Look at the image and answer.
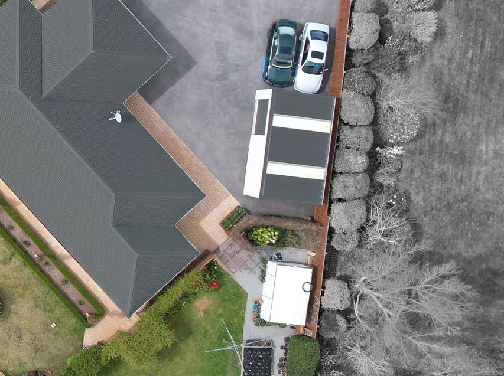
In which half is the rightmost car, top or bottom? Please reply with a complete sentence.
The rightmost car is in the top half of the image.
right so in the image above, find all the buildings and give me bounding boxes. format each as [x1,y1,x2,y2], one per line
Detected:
[246,90,338,204]
[0,0,209,319]
[259,263,312,326]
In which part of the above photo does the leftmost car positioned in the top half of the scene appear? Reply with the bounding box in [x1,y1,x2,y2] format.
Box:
[263,19,298,88]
